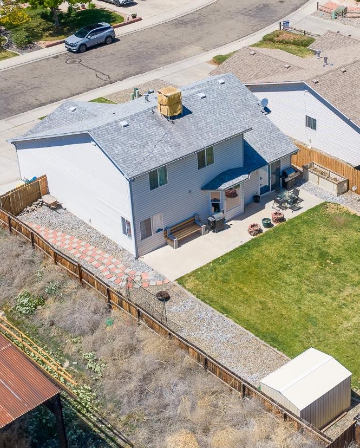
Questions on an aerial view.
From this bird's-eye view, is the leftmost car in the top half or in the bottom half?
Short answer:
top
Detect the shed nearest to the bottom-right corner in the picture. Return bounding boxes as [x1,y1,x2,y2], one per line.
[261,350,350,436]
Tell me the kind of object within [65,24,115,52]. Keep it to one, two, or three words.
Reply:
car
